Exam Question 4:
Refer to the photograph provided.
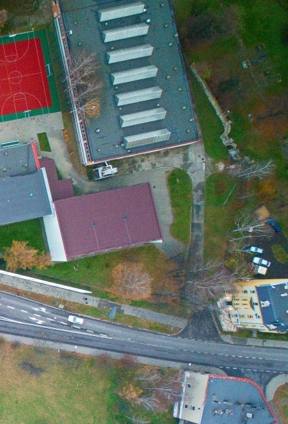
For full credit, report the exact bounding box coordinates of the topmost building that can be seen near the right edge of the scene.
[205,277,288,330]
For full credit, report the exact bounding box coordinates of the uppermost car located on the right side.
[270,218,284,233]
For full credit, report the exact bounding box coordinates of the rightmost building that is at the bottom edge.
[177,370,279,424]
